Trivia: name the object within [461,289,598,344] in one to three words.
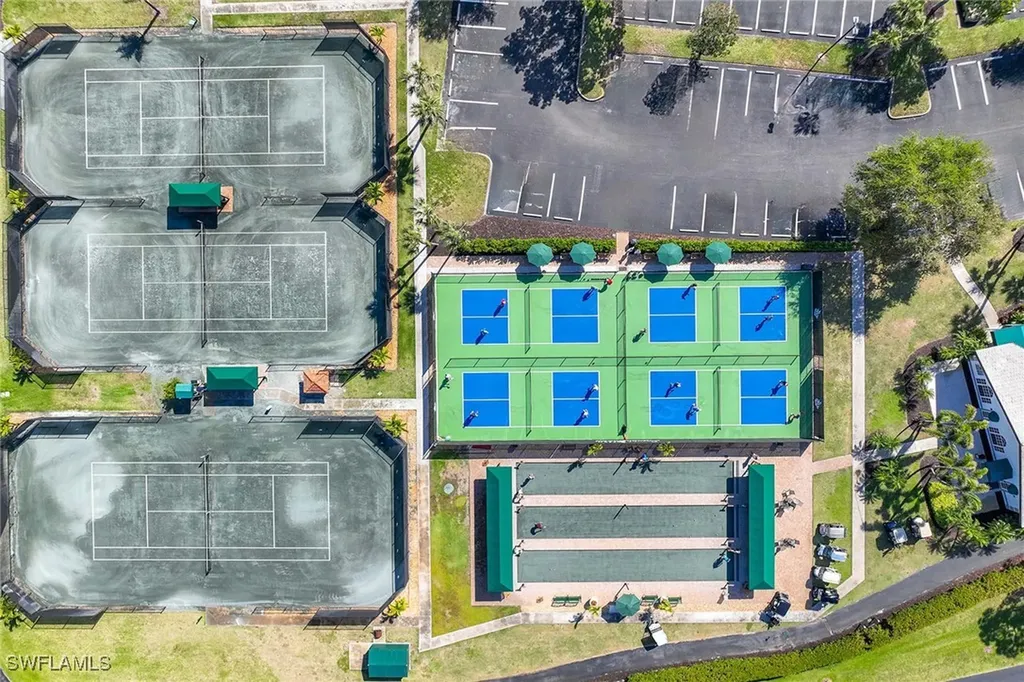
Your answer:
sports court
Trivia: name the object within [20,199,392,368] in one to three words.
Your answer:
tennis court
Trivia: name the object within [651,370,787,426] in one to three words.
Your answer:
sports court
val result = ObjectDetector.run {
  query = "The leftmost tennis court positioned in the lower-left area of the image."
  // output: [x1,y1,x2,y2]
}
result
[8,416,408,609]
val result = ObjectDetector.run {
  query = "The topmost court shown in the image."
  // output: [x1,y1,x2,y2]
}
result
[18,31,390,202]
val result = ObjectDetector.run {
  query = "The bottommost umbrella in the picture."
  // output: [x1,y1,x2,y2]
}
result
[615,591,641,617]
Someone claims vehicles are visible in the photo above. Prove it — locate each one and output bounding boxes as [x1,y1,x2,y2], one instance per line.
[816,521,845,537]
[769,586,790,616]
[817,543,847,563]
[907,511,932,539]
[645,613,666,644]
[882,516,907,544]
[810,584,840,603]
[810,563,840,585]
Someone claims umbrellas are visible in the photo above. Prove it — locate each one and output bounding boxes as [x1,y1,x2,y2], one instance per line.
[705,239,731,266]
[527,242,553,268]
[657,241,682,267]
[569,240,596,267]
[615,591,641,617]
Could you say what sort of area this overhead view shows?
sports ground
